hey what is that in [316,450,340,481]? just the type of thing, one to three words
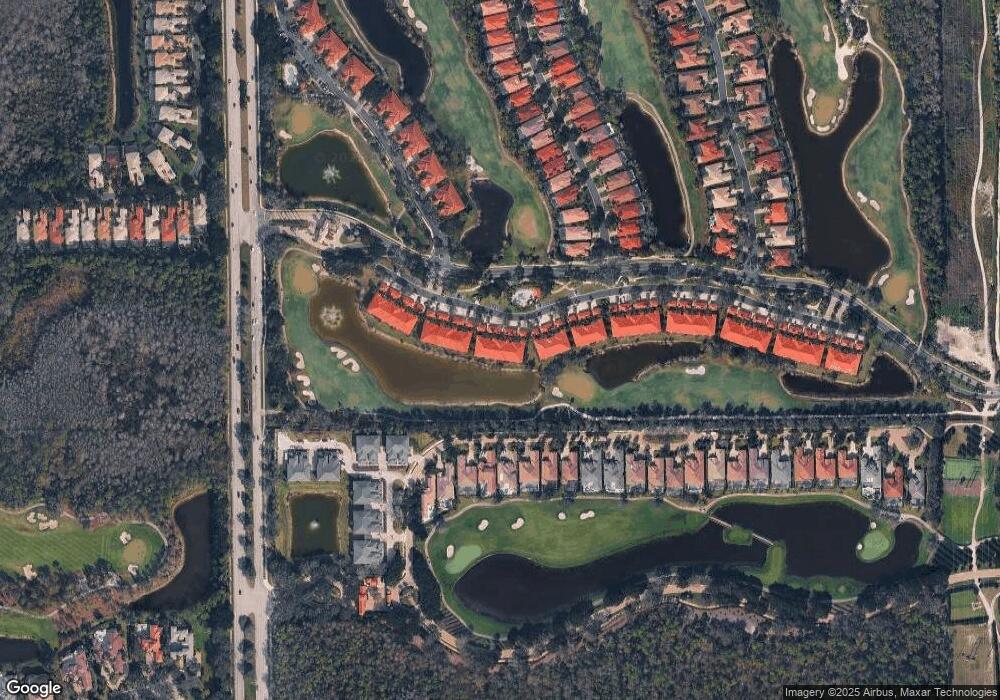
building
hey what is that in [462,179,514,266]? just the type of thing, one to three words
pond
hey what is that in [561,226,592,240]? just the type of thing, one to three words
house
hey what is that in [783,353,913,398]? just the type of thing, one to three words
pond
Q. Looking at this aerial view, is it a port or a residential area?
residential area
